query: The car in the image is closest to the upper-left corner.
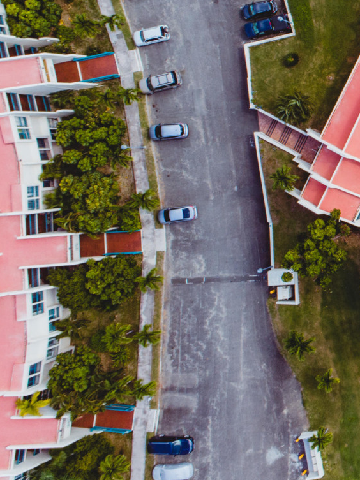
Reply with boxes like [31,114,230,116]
[132,26,172,45]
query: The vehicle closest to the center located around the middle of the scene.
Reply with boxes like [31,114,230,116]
[158,205,200,225]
